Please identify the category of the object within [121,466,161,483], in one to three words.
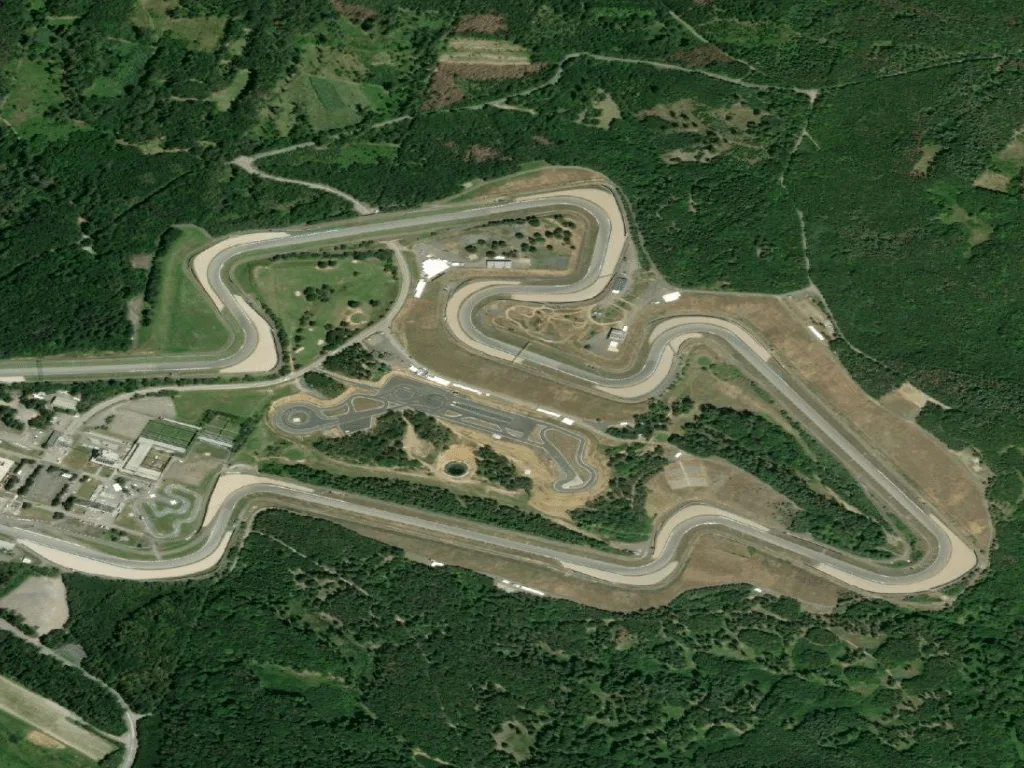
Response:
building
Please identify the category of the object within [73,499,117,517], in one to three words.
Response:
building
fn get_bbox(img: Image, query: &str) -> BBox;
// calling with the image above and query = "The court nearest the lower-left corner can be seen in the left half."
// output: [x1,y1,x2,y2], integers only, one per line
[142,418,197,449]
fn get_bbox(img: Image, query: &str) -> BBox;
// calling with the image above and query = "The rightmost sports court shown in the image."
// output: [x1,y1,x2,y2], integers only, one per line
[204,414,241,441]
